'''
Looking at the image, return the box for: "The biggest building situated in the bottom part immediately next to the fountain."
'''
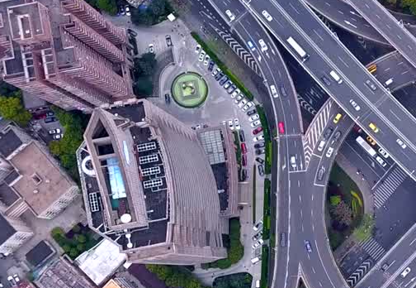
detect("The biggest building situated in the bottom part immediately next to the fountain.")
[76,99,217,257]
